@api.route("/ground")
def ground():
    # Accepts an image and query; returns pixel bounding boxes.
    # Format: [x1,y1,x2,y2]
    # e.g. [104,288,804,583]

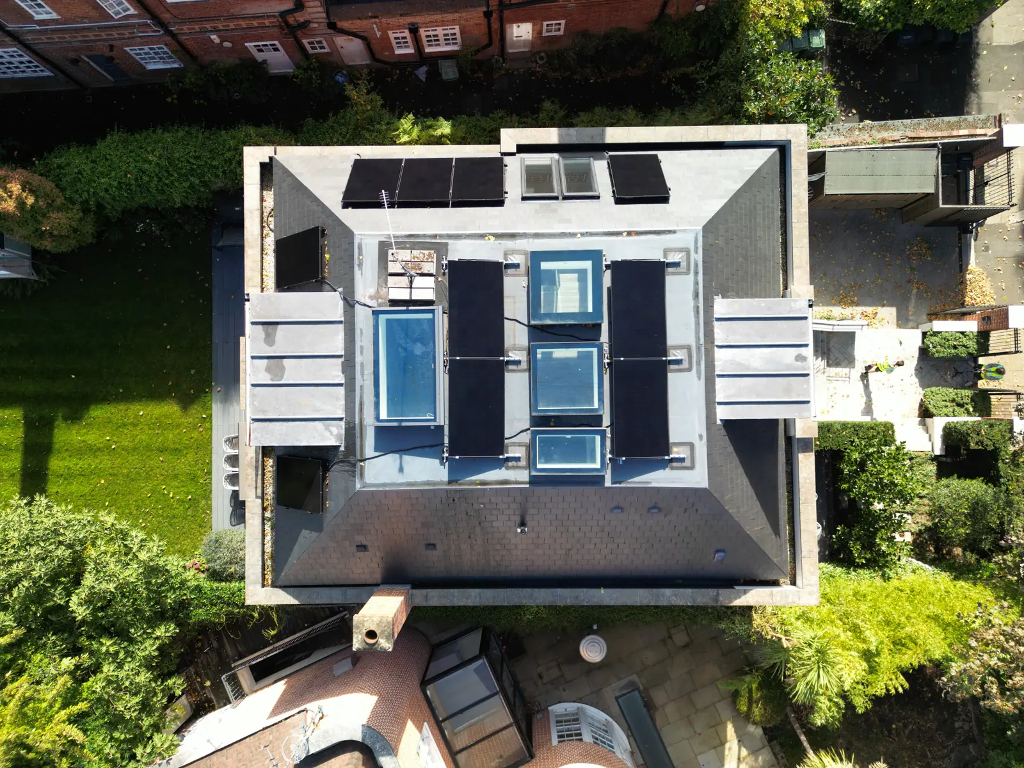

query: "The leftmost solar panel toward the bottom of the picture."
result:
[276,456,327,513]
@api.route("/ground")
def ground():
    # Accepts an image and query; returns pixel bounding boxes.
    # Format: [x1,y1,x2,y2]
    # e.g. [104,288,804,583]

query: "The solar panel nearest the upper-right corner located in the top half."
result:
[608,154,669,199]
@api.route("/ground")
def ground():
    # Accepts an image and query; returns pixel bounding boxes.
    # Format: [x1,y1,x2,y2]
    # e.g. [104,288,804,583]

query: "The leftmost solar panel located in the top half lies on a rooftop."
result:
[275,227,327,287]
